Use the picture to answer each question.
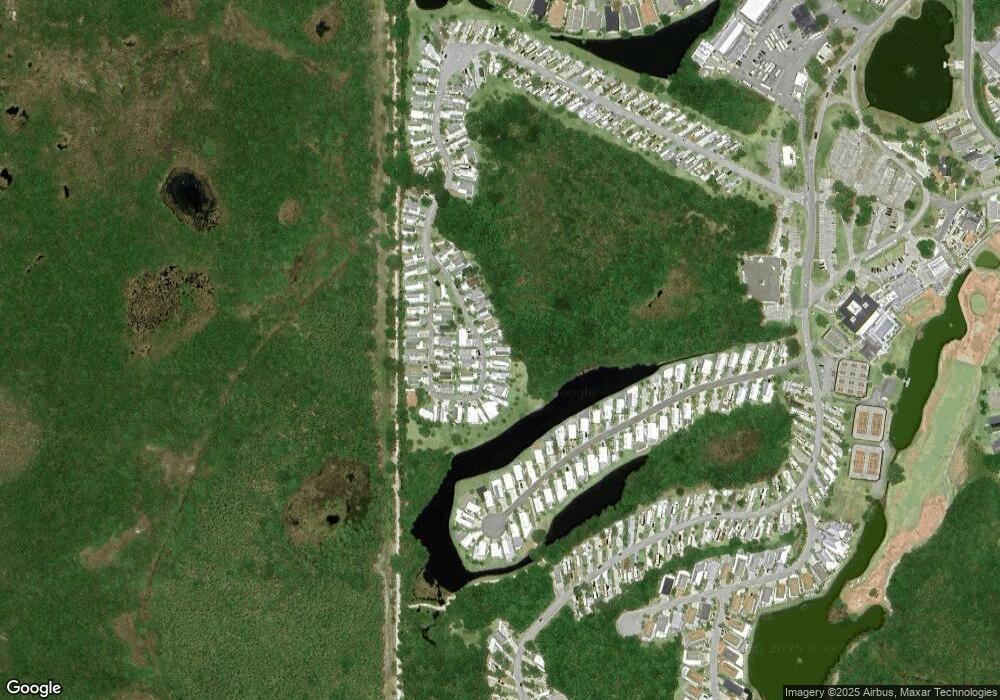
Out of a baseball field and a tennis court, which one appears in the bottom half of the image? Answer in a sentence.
Visible in the bottom half of the image is a tennis court.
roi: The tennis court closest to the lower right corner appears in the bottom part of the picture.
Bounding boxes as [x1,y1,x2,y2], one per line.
[850,444,883,480]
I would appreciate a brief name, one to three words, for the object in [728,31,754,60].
shed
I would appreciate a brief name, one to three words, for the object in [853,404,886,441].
tennis court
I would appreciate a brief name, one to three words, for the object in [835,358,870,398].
sports court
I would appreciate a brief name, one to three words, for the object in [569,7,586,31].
house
